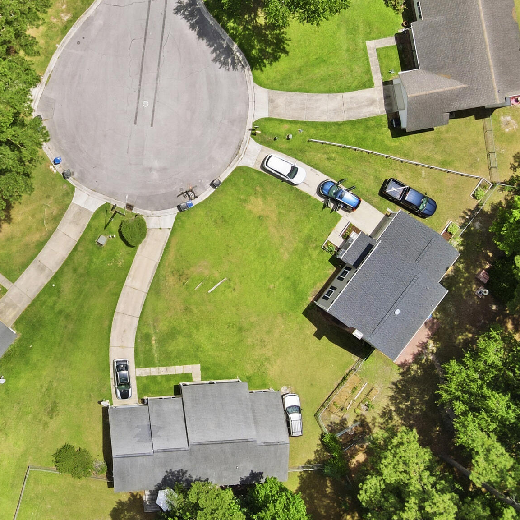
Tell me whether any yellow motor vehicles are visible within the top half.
No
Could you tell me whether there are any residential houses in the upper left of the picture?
No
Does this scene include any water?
No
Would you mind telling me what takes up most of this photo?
grass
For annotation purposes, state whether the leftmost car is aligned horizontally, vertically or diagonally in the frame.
vertically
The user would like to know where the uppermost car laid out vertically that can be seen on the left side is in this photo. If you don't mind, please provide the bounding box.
[112,356,133,401]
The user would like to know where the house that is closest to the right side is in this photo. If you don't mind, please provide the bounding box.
[389,0,520,132]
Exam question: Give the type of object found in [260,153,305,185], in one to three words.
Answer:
car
